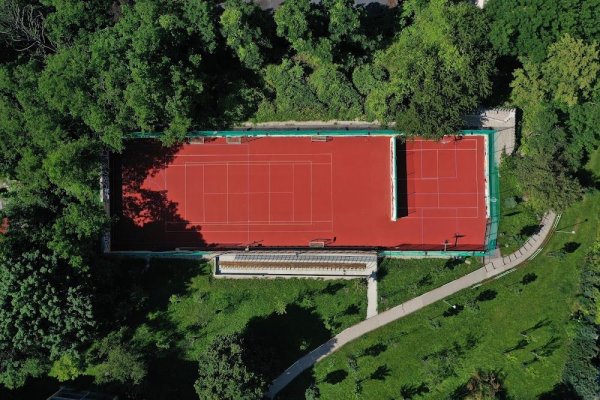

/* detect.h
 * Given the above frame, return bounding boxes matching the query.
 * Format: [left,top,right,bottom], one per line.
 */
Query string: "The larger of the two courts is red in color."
[110,137,392,251]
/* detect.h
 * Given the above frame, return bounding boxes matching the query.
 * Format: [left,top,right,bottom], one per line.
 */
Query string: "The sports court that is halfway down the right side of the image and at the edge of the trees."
[392,137,485,251]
